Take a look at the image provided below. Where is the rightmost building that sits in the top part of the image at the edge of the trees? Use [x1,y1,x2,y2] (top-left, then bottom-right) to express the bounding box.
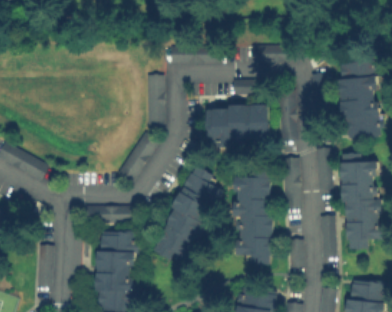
[340,62,384,138]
